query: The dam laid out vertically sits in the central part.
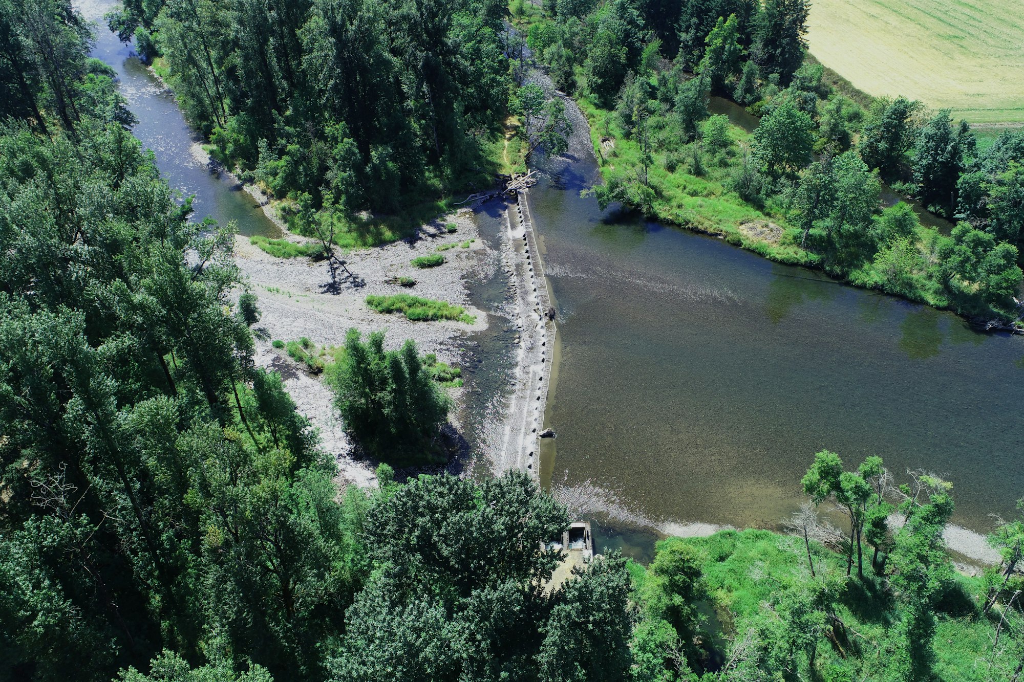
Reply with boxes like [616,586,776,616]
[495,187,557,515]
